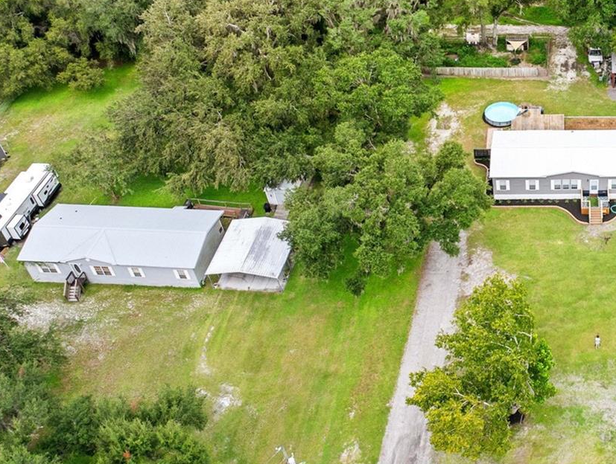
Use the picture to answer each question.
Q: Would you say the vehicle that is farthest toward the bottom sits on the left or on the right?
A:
left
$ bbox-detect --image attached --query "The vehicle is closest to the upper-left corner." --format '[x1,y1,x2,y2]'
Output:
[0,165,57,256]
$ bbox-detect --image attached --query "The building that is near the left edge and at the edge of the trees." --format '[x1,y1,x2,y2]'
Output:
[17,204,227,287]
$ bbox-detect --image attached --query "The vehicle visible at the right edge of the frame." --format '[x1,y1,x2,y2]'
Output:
[589,44,604,69]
